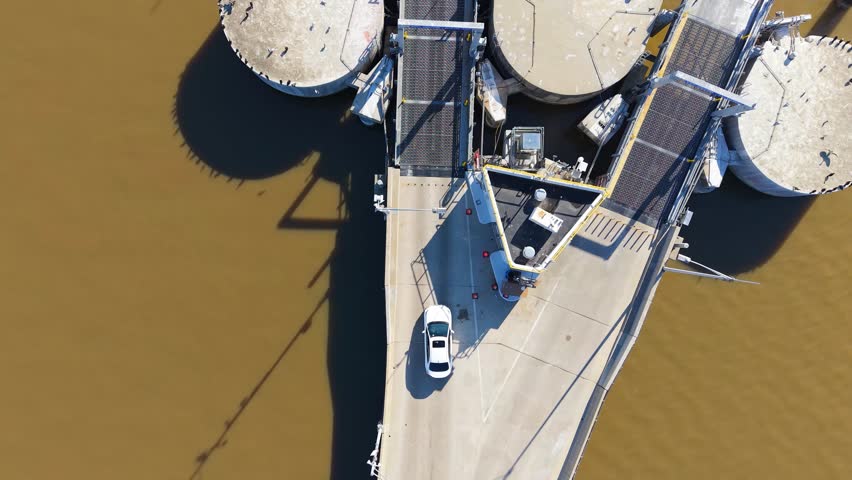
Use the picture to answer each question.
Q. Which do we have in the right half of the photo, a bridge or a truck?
bridge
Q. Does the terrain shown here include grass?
No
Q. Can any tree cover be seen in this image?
No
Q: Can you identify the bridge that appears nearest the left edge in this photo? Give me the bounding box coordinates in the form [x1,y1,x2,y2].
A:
[397,0,480,176]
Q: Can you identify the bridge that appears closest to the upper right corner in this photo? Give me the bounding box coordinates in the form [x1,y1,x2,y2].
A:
[594,0,777,235]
